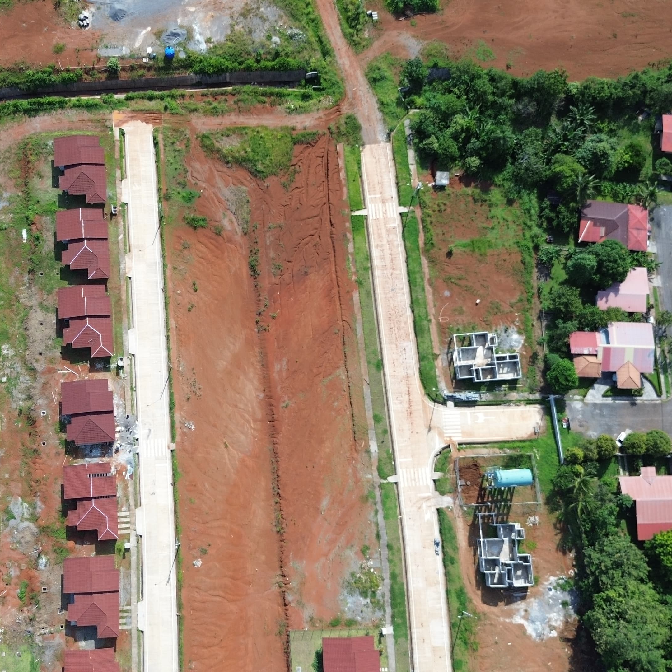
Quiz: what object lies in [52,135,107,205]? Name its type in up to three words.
house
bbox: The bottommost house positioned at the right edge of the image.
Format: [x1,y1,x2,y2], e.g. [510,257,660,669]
[616,467,672,540]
